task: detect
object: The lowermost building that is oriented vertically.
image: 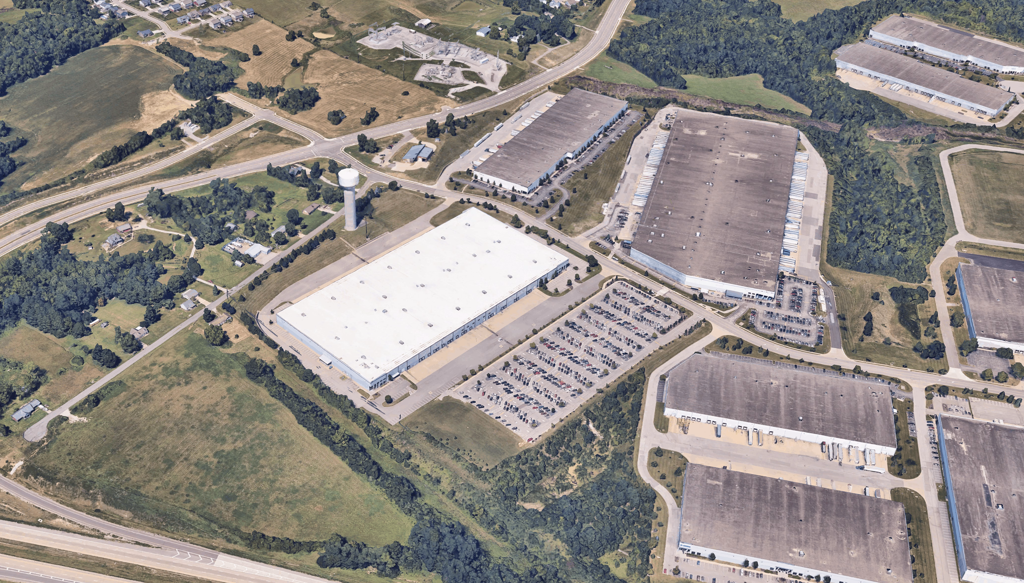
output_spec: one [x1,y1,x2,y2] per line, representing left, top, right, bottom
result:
[938,413,1024,583]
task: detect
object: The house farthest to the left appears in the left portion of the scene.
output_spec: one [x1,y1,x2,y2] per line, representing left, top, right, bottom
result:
[3,399,48,425]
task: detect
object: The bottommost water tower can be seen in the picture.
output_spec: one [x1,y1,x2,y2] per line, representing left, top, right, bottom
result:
[335,167,357,232]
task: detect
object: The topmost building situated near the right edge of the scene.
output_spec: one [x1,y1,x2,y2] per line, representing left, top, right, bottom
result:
[869,15,1024,75]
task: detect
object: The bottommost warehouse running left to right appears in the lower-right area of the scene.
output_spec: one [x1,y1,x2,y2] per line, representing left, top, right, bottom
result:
[675,462,914,583]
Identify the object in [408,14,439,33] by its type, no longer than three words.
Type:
barn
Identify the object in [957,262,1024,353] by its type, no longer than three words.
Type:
building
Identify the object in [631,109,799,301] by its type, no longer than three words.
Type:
warehouse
